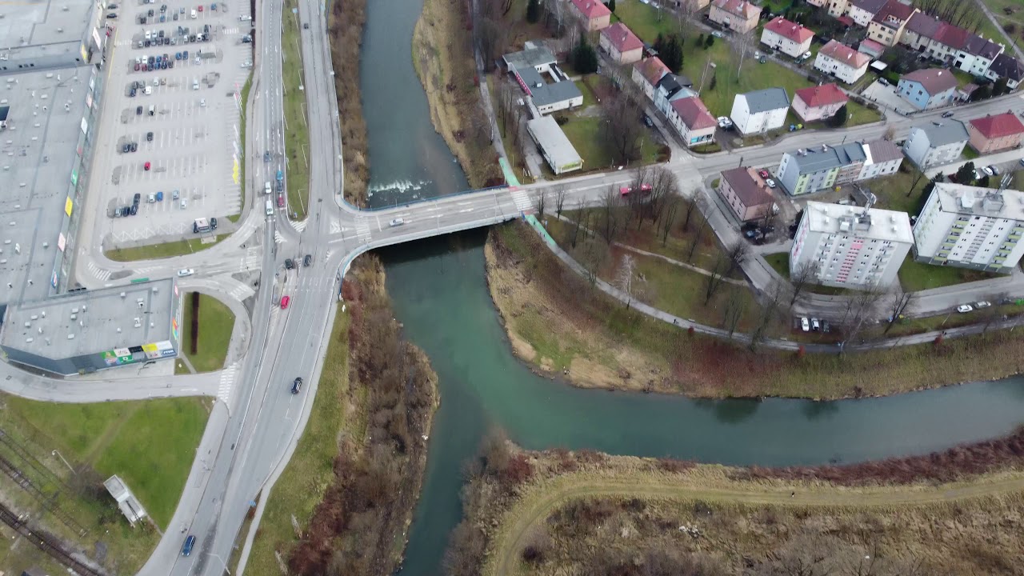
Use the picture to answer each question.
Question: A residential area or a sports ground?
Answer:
residential area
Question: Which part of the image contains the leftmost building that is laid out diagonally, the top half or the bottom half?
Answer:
bottom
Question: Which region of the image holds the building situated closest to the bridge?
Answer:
top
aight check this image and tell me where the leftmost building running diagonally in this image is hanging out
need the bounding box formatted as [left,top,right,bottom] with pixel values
[103,474,153,530]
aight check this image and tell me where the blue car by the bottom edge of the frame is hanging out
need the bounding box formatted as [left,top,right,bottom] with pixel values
[182,535,197,556]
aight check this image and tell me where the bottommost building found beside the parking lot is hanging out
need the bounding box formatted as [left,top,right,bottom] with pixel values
[0,277,184,380]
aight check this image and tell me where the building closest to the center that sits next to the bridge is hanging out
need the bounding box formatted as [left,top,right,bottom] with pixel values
[527,114,582,178]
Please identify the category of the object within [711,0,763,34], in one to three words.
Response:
house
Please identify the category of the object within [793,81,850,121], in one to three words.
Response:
house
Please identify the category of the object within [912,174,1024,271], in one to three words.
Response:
building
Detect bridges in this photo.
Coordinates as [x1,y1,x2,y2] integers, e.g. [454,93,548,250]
[335,182,522,288]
